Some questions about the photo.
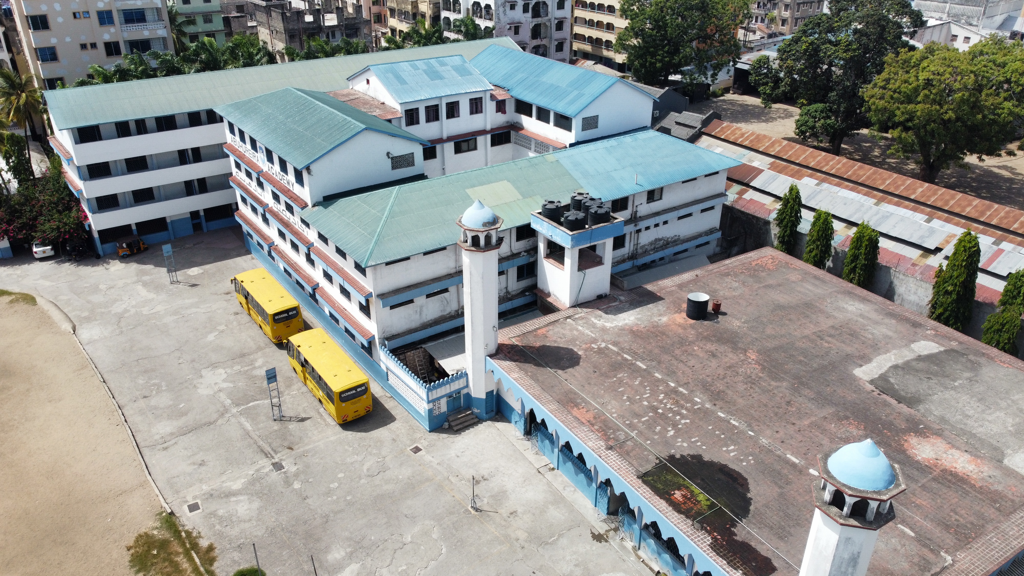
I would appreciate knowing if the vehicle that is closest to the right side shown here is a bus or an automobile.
bus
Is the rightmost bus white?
No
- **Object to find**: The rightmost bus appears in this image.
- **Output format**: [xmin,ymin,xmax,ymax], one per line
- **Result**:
[285,335,371,422]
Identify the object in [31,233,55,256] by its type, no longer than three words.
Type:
car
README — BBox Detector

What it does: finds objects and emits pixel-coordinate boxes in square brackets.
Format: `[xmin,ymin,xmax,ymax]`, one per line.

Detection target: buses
[234,273,302,340]
[285,335,371,422]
